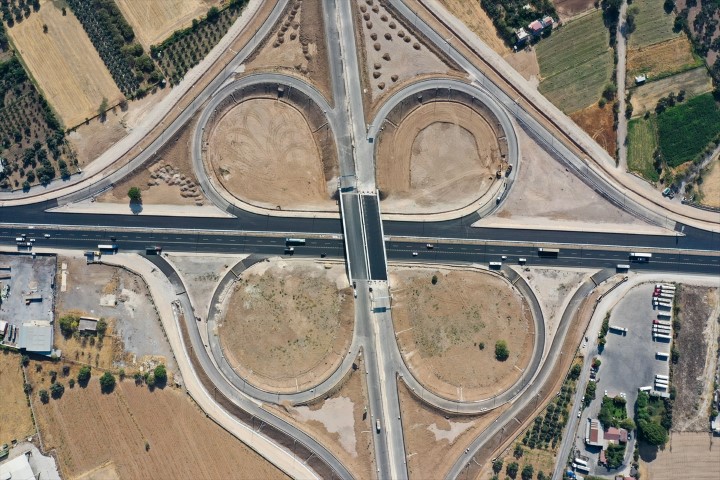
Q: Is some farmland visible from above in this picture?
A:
Yes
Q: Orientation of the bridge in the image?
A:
up and down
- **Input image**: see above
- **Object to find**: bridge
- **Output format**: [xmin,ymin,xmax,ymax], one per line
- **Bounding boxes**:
[340,188,388,288]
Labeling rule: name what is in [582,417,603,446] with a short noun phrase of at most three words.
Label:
building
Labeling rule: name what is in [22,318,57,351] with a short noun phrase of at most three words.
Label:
building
